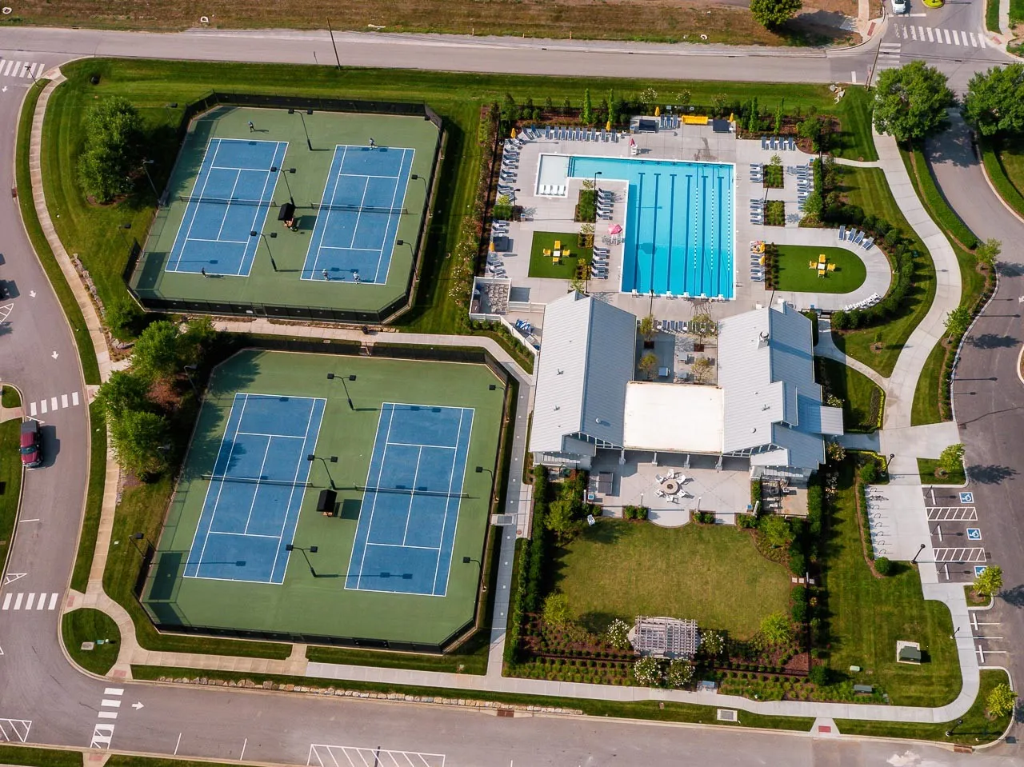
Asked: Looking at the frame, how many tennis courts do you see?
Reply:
four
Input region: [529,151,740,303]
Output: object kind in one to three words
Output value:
swimming pool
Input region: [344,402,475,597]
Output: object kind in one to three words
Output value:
tennis court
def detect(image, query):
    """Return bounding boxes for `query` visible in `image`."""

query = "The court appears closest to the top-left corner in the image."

[165,138,289,276]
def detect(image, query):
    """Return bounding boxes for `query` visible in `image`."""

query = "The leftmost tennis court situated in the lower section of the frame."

[183,393,326,585]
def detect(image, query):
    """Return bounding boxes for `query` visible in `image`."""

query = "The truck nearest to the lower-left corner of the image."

[16,419,40,467]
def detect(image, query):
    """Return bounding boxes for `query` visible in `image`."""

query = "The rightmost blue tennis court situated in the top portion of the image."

[300,144,415,285]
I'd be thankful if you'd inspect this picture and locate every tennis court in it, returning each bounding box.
[165,138,289,276]
[183,393,326,585]
[300,144,415,285]
[344,402,475,597]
